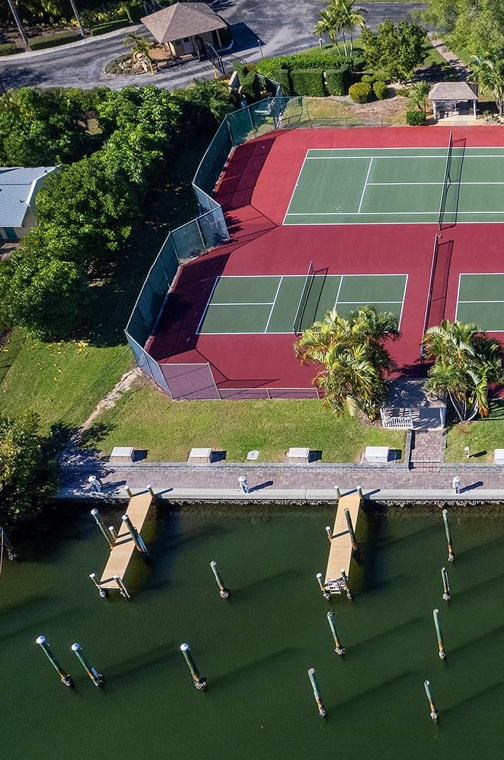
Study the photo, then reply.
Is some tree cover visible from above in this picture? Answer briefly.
Yes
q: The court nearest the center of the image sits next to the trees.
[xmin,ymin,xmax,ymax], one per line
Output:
[197,275,408,333]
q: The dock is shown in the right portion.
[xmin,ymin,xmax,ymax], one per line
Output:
[318,485,370,606]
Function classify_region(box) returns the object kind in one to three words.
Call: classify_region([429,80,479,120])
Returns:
gazebo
